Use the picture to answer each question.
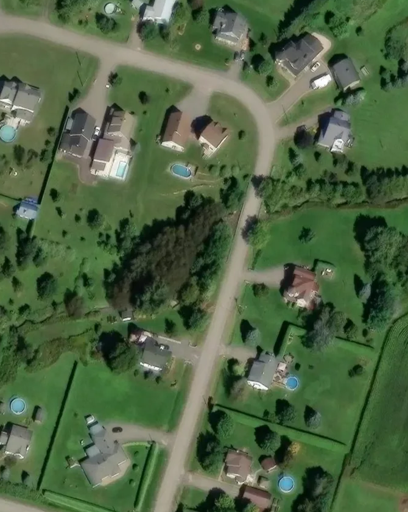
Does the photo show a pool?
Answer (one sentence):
Yes, there's a pool here.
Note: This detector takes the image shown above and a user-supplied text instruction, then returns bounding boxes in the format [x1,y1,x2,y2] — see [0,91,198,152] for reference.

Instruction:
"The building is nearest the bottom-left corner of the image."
[0,424,32,459]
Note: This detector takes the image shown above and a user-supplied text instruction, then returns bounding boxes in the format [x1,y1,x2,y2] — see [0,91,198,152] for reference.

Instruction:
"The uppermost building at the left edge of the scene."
[0,75,41,130]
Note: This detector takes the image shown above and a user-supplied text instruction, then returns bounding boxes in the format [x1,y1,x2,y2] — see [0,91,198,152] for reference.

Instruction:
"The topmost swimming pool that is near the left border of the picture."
[0,125,15,142]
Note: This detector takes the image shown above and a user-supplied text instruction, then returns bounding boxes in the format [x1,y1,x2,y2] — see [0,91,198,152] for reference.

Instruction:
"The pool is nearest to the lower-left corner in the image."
[9,398,25,415]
